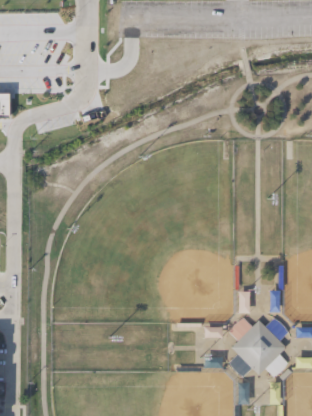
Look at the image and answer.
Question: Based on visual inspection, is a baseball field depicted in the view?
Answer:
Yes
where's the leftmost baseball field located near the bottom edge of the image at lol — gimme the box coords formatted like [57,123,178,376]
[52,372,235,416]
